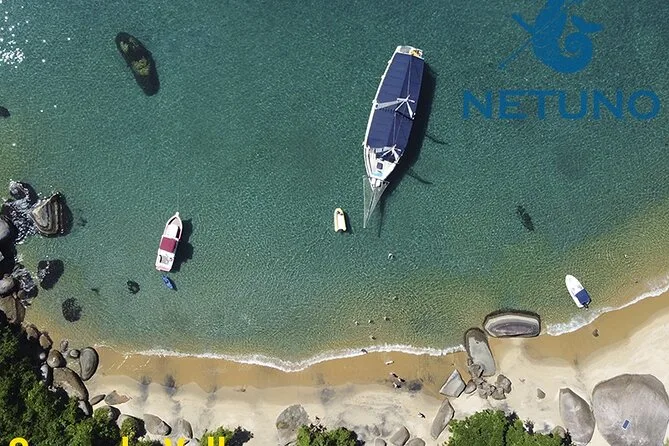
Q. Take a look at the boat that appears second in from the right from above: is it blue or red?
blue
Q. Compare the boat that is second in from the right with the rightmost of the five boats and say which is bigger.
the boat that is second in from the right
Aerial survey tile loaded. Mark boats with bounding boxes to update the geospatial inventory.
[160,274,174,289]
[565,274,593,306]
[365,46,425,229]
[155,211,182,274]
[334,208,347,232]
